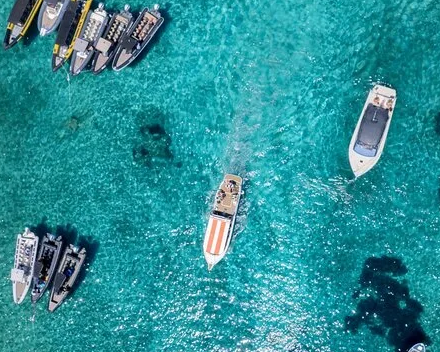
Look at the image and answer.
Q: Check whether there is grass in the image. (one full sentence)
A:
No, the scene doesn't show any grass.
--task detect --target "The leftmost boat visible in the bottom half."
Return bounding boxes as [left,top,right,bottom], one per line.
[11,228,40,303]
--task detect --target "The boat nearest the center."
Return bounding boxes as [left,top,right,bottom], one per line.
[204,172,243,271]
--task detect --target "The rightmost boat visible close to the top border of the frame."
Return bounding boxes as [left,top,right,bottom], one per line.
[113,7,163,69]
